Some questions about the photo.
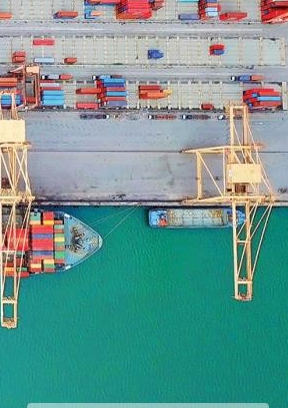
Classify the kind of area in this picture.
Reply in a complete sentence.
This looks like a port.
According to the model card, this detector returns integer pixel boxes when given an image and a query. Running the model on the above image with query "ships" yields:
[148,208,246,227]
[3,207,103,276]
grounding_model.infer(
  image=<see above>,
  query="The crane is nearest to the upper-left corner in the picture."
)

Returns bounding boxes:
[10,63,39,111]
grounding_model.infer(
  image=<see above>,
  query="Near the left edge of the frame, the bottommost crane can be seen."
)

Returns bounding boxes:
[0,91,38,330]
